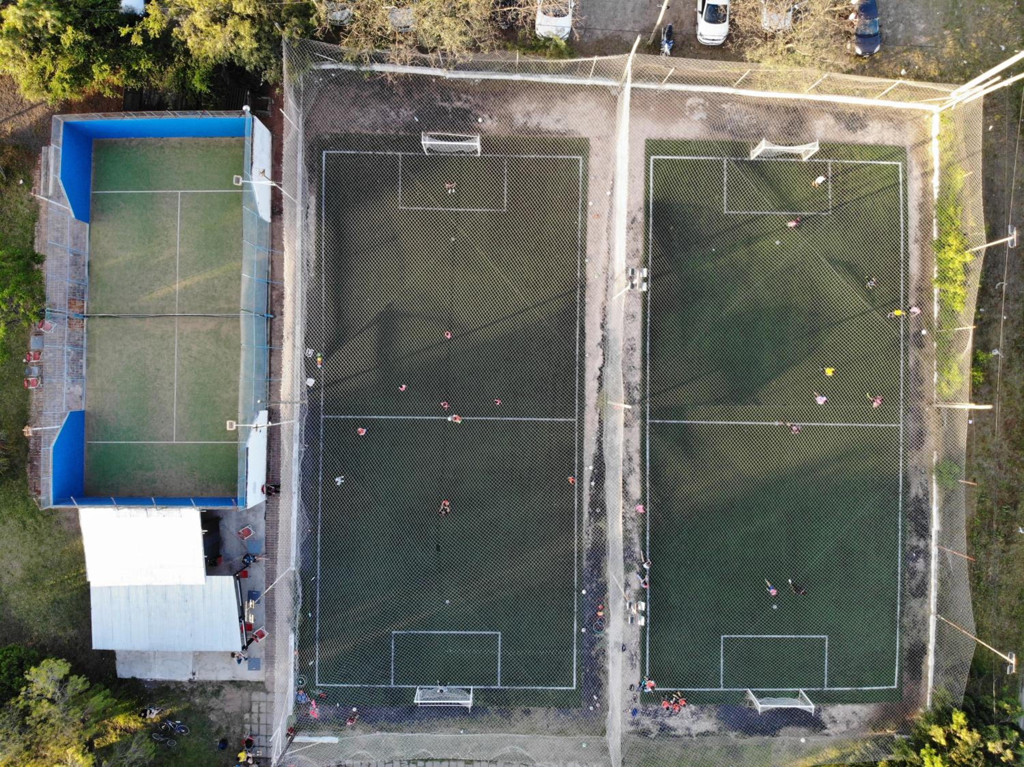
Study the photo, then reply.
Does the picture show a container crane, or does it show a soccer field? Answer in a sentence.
Of the two, only a soccer field appears.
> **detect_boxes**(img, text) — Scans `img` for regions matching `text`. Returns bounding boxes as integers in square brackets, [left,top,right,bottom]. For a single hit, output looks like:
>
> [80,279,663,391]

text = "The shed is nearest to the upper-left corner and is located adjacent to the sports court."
[123,73,262,120]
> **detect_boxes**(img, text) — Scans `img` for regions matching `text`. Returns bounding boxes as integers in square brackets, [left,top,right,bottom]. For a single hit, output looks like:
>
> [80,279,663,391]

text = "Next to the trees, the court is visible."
[35,107,274,512]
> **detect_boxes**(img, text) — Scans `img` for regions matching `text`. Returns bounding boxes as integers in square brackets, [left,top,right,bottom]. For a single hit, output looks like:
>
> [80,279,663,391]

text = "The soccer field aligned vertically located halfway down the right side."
[640,139,907,705]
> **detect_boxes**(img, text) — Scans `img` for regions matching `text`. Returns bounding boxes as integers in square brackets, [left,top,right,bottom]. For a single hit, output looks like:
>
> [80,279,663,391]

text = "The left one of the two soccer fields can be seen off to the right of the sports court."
[296,134,589,708]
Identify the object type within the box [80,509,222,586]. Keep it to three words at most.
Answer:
building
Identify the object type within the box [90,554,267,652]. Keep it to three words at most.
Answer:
building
